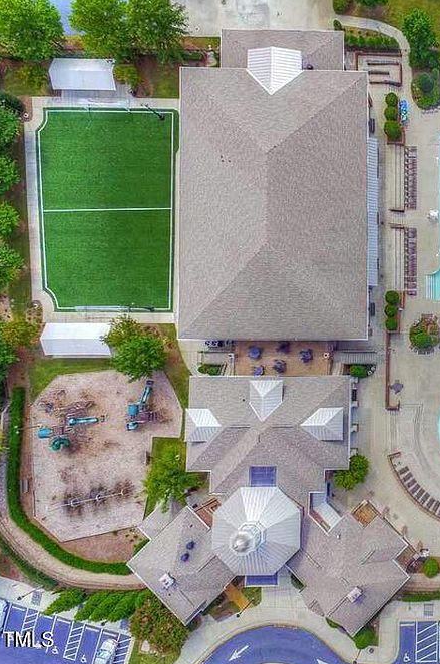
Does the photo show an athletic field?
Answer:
Yes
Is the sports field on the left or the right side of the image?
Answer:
left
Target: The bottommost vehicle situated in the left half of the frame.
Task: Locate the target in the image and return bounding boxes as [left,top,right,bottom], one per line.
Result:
[96,632,119,664]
